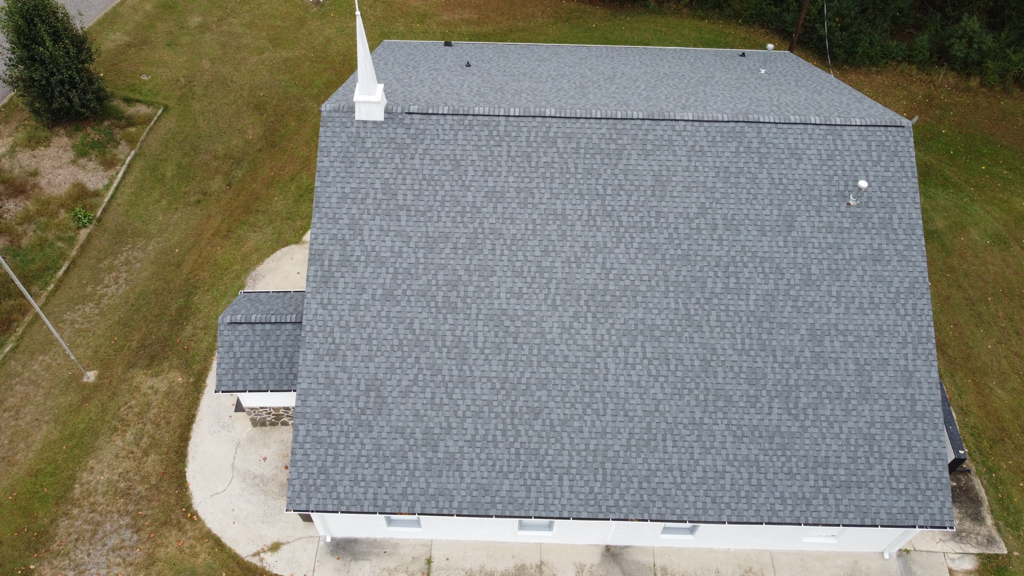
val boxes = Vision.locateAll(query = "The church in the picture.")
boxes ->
[214,0,957,558]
